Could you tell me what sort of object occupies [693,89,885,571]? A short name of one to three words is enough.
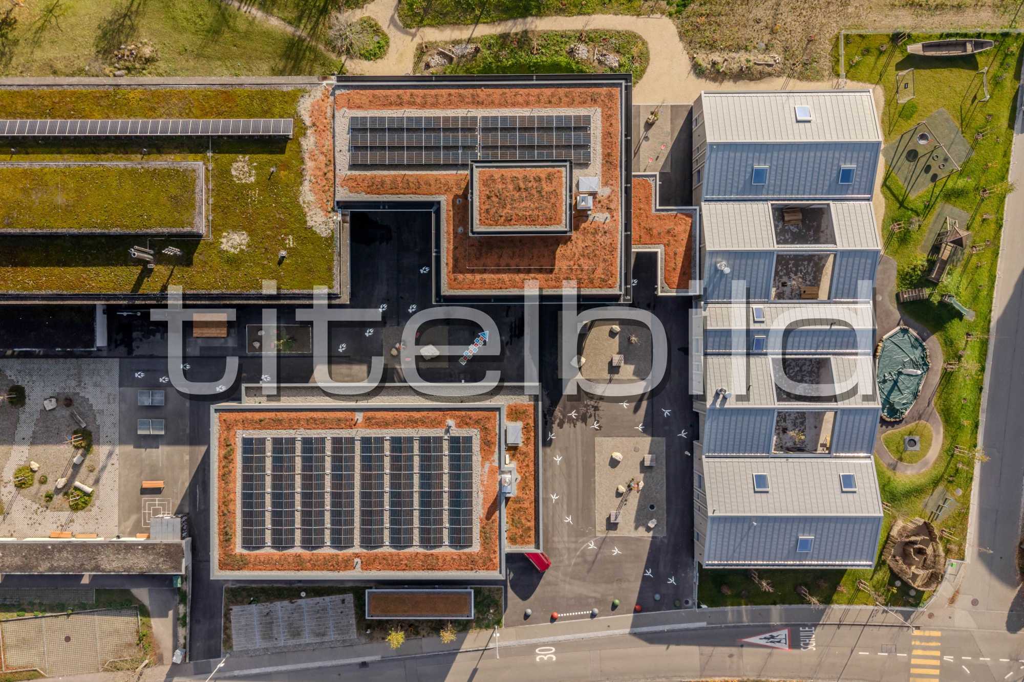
building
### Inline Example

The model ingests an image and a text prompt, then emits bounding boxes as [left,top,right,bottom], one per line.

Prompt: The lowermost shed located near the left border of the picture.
[0,538,186,575]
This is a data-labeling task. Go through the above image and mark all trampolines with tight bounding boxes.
[905,436,920,450]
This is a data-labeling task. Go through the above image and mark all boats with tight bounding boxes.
[907,39,994,55]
